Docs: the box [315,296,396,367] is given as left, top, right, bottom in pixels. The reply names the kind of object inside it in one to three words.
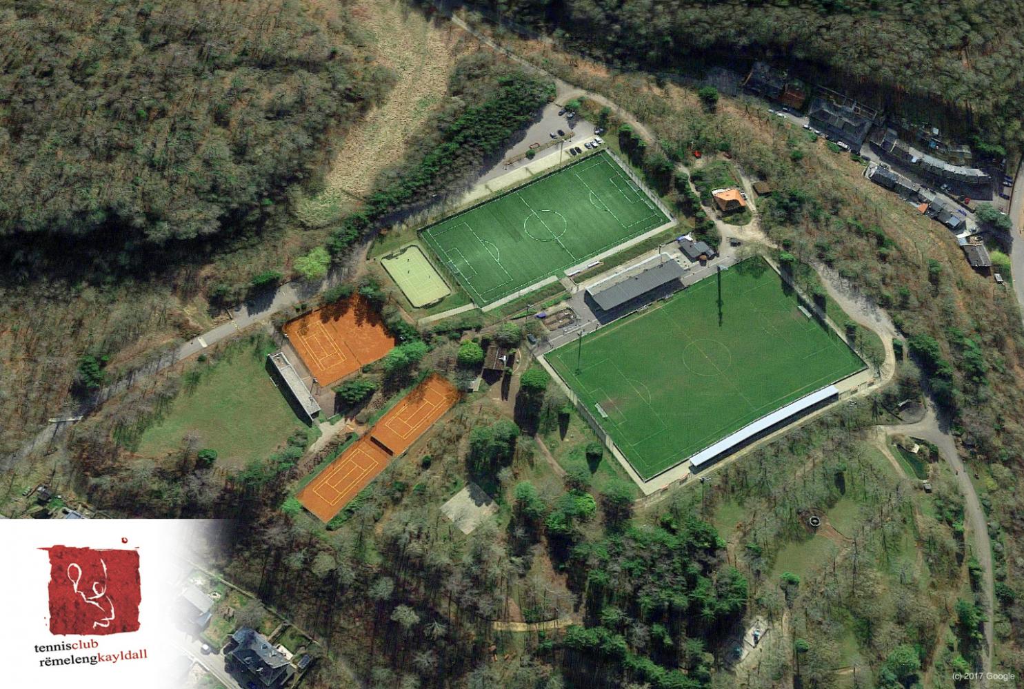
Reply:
tennis court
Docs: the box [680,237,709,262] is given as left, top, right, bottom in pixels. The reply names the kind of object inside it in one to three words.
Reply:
building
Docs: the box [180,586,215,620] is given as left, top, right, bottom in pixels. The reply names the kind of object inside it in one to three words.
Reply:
house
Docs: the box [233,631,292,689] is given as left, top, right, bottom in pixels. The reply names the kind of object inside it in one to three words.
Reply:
house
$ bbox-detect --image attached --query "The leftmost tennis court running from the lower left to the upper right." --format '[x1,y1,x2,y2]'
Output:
[297,435,393,523]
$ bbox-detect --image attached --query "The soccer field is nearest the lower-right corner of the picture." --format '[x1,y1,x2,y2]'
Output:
[545,256,867,480]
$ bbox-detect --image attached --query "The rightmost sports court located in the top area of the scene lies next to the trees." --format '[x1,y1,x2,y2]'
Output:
[381,244,451,307]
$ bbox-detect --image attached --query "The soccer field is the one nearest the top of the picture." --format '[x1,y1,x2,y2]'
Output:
[419,150,671,308]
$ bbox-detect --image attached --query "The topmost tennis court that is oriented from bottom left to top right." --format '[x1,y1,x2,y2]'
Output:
[372,373,460,458]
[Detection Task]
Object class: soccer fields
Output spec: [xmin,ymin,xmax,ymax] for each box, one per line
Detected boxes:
[545,256,867,480]
[419,150,671,308]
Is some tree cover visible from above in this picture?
Yes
